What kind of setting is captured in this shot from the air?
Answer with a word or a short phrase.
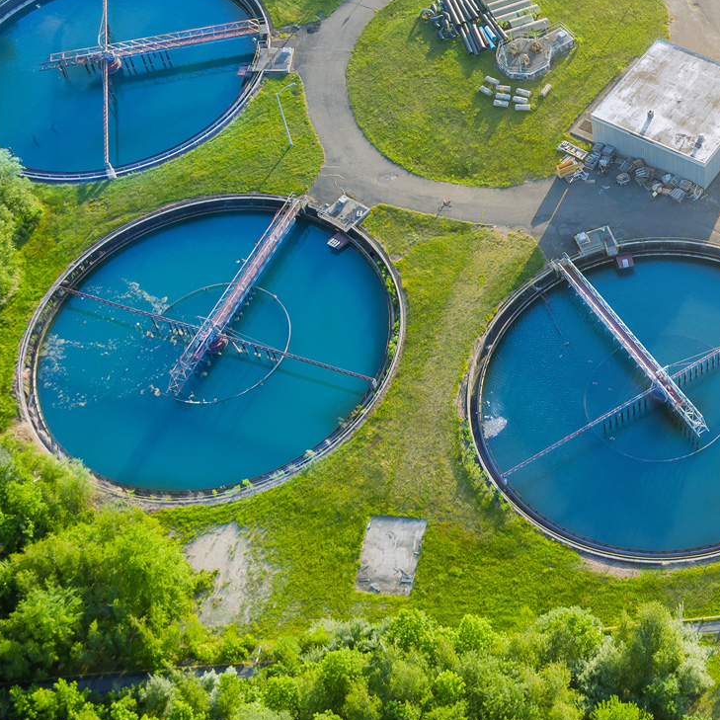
industrial area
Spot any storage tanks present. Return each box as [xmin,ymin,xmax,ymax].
[466,234,720,567]
[0,0,272,186]
[15,189,406,506]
